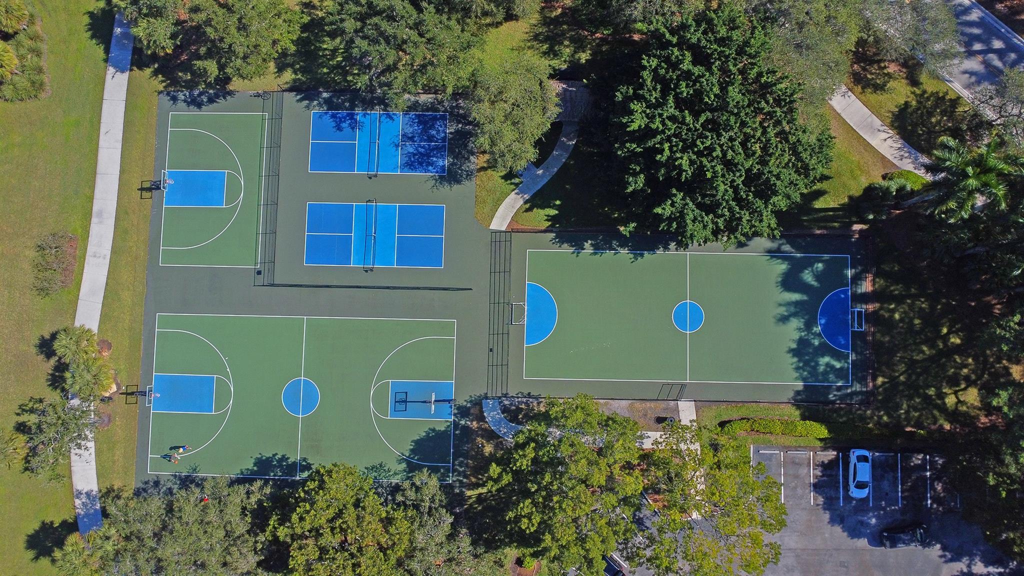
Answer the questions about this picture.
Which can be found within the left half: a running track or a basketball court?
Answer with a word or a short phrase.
basketball court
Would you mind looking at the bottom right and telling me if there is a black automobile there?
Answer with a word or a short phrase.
Yes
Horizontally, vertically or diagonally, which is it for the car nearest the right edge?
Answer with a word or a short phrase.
horizontally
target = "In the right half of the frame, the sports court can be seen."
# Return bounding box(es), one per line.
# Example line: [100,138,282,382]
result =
[525,249,852,385]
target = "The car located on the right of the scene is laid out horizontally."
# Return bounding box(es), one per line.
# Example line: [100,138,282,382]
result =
[875,523,930,549]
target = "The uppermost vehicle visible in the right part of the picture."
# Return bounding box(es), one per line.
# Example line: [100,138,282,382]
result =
[846,448,873,499]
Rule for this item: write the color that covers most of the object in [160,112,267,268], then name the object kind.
green basketball court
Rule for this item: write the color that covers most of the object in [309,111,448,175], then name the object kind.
blue sports court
